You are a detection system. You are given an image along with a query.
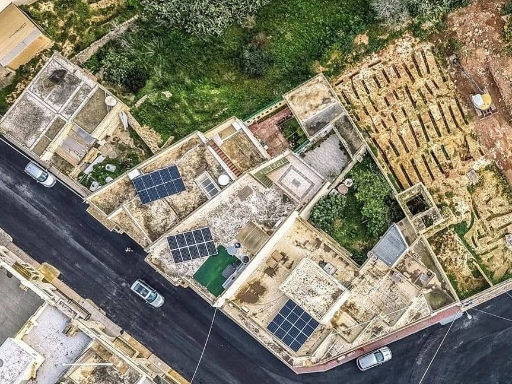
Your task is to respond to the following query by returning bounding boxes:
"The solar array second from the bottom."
[168,226,217,263]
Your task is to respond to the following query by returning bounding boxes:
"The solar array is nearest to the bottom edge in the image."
[267,299,319,352]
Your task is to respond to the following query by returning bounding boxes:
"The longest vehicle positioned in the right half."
[447,53,498,125]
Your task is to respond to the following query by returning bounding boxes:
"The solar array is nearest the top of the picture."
[132,165,186,205]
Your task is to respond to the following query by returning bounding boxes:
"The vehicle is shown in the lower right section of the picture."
[355,347,392,371]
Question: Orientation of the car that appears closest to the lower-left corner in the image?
on a diagonal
